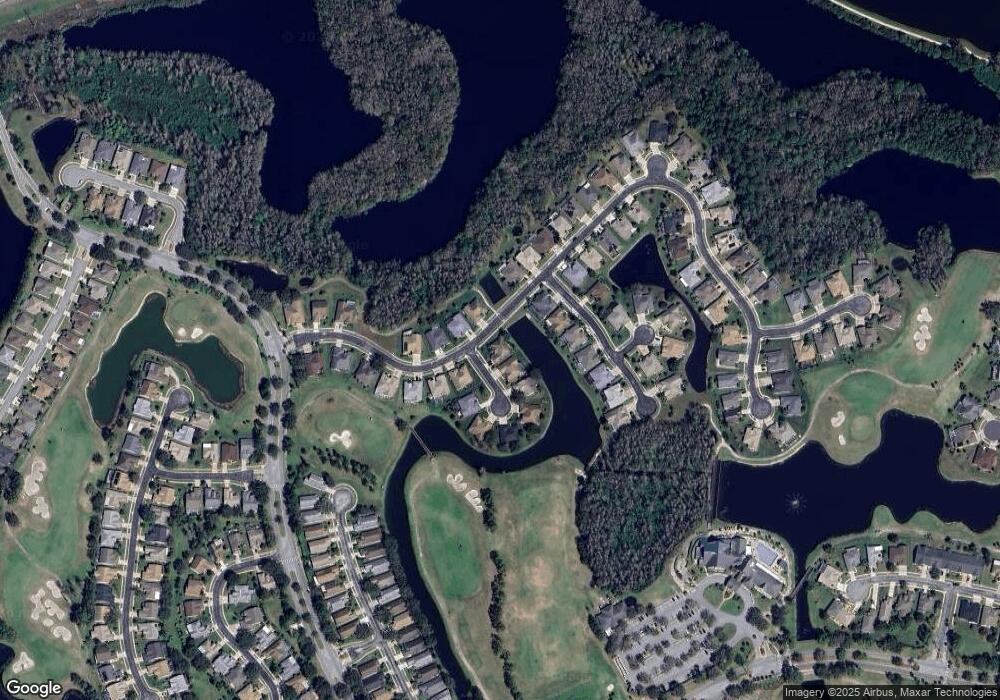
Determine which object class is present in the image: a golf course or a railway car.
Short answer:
golf course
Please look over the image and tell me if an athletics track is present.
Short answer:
No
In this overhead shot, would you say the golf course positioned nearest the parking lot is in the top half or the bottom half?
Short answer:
bottom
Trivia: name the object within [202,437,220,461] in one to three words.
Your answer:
house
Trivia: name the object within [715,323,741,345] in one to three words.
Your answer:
house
